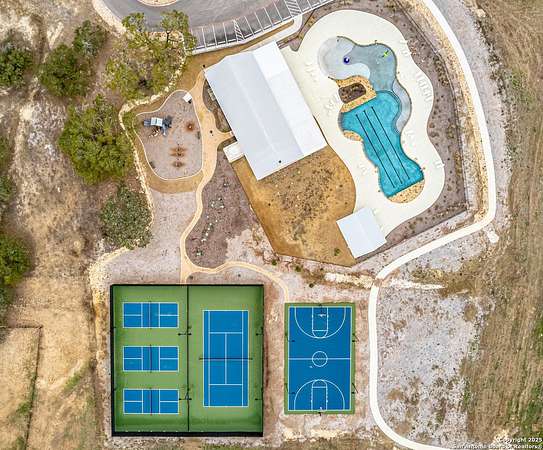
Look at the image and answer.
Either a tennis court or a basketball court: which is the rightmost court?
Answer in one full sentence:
The rightmost court is a basketball court.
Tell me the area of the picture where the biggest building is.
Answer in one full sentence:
You can find the biggest building in the top area of the picture.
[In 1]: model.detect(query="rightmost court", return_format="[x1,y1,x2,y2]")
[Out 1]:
[284,303,355,414]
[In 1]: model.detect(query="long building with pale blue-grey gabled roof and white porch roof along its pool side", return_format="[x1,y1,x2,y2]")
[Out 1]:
[204,38,328,180]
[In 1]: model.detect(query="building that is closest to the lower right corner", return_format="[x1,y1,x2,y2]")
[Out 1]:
[336,205,388,258]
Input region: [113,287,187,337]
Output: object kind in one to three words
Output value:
sports court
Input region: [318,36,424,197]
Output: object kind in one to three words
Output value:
swimming pool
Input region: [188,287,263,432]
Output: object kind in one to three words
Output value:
tennis court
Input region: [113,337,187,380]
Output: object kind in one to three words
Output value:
sports court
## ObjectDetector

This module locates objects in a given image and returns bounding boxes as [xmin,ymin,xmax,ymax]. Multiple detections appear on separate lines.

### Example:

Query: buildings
[204,38,328,180]
[336,205,388,258]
